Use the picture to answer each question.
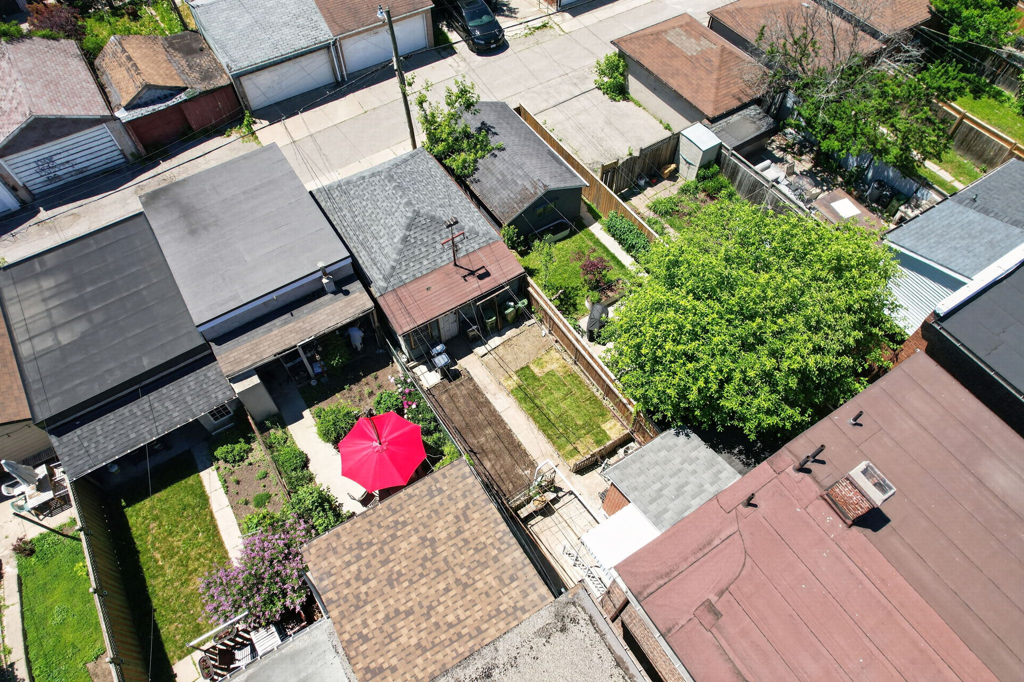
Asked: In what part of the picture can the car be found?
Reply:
top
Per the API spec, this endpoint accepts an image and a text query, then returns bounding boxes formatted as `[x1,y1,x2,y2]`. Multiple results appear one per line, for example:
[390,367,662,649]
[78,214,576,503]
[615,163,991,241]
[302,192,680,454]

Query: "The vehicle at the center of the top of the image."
[450,0,503,51]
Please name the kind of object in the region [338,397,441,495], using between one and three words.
umbrella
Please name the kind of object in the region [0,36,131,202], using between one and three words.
building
